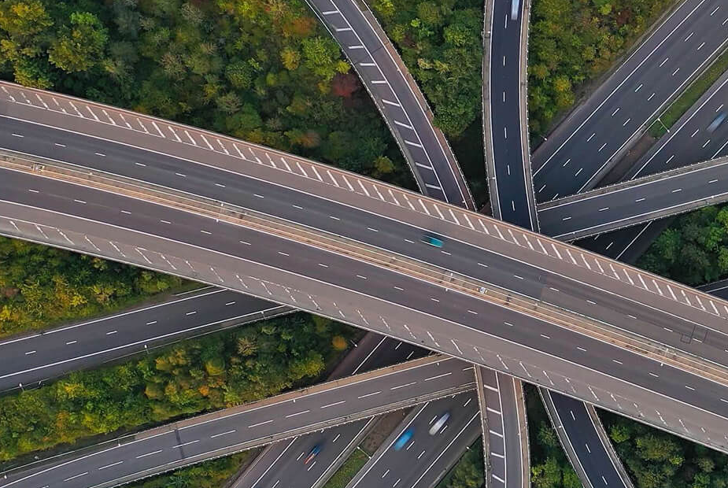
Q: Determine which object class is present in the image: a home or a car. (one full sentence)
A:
Visible in the photo is a car.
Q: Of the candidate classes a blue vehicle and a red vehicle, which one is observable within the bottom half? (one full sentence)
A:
Visible within the bottom half is a blue vehicle.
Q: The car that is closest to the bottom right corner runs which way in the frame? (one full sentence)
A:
In this picture, the car that is closest to the bottom right corner lies at an angle.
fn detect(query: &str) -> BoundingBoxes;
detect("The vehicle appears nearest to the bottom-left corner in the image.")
[305,444,322,464]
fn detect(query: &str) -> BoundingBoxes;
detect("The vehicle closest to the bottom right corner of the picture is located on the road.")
[430,413,450,434]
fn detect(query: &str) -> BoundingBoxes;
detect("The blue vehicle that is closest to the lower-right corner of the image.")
[396,429,414,448]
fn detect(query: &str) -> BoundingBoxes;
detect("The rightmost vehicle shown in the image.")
[707,109,728,131]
